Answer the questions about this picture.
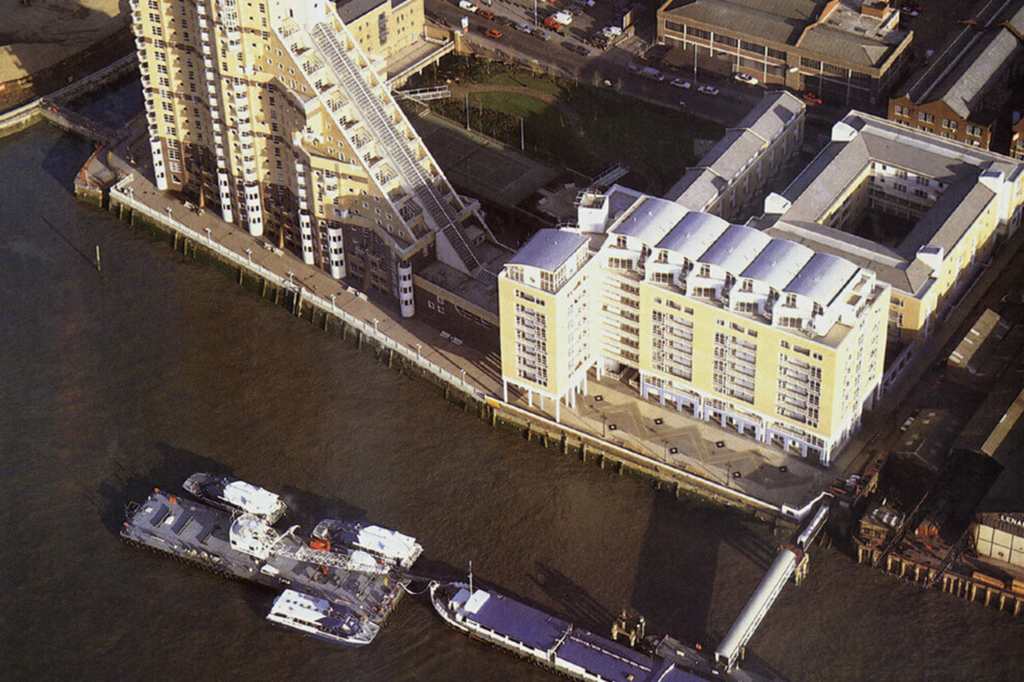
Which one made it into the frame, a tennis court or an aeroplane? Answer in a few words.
tennis court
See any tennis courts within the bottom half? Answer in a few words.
No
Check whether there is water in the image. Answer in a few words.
Yes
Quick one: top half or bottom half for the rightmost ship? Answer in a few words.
bottom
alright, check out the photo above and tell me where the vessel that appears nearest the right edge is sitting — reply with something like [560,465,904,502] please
[424,554,726,682]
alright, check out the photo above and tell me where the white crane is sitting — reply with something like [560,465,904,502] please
[229,509,389,576]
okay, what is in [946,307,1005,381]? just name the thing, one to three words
shed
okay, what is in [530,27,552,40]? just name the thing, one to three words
vehicle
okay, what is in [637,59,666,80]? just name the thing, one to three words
vehicle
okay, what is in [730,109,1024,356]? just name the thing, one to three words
building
